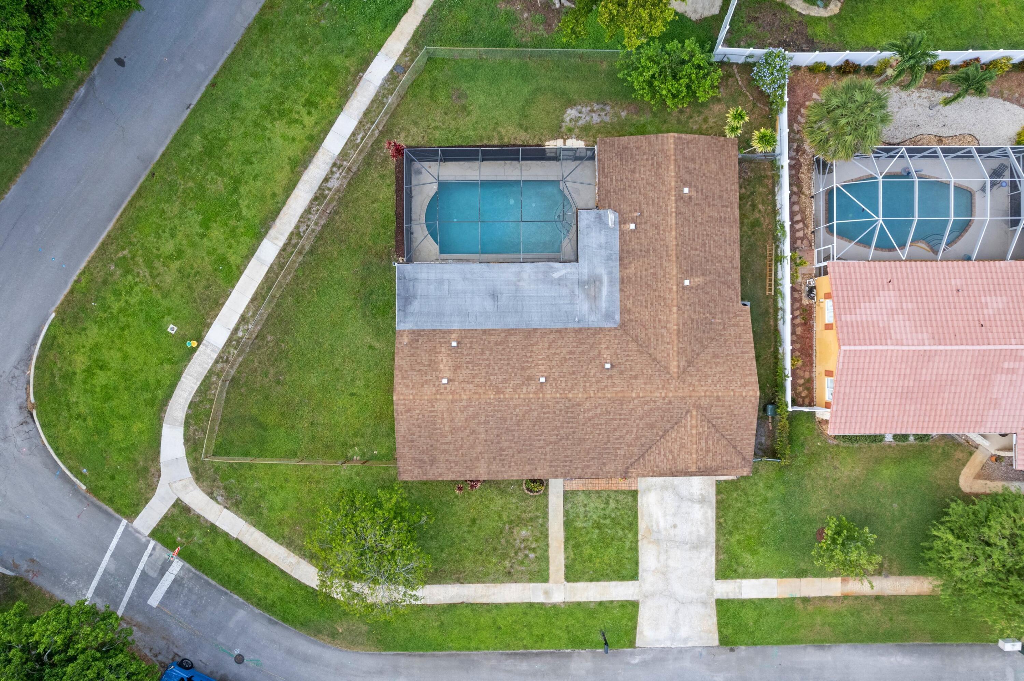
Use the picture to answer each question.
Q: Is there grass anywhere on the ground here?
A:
Yes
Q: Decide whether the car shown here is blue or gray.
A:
blue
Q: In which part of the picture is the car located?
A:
bottom left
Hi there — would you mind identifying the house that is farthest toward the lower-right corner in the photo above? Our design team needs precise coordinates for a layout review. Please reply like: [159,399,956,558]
[816,258,1024,470]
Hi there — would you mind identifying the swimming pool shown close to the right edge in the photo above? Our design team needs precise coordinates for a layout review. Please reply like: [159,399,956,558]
[825,171,976,254]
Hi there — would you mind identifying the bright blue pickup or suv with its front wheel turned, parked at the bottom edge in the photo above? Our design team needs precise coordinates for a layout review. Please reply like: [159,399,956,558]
[161,659,216,681]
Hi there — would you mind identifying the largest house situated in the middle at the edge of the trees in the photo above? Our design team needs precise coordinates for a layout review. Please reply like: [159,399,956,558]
[393,132,760,481]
